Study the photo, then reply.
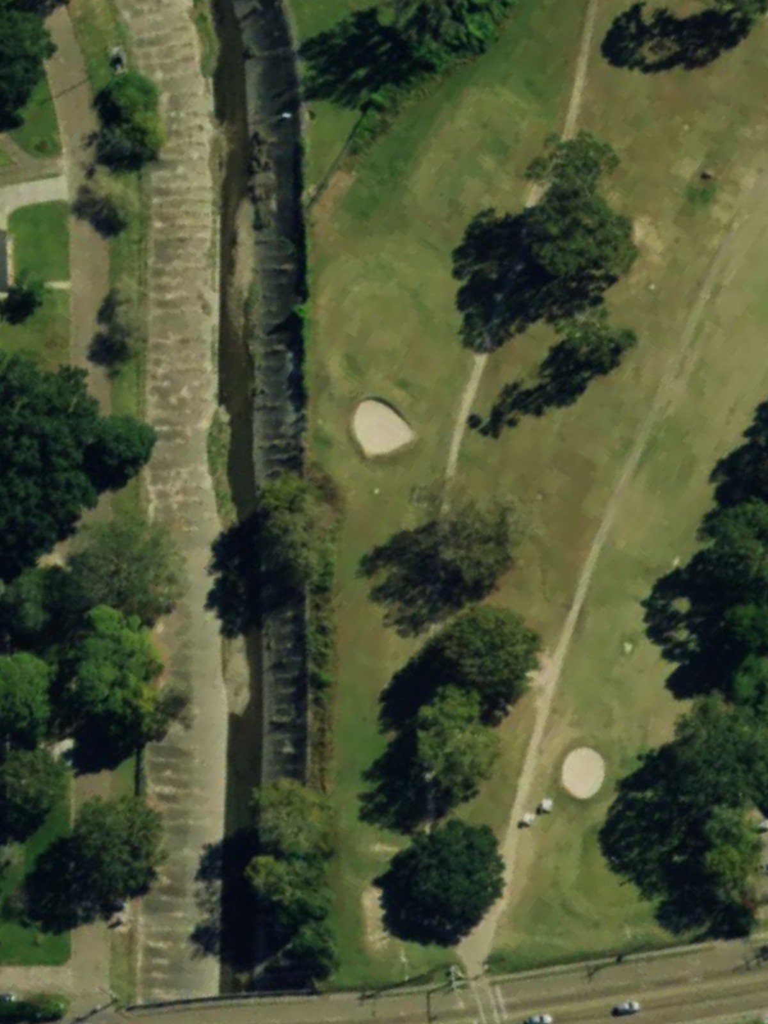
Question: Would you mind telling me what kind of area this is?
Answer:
golf course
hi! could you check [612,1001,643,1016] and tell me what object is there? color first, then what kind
gray car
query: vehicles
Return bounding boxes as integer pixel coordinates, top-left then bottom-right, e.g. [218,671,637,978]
[523,811,534,825]
[522,1013,553,1024]
[760,822,768,830]
[612,1001,643,1016]
[540,798,552,811]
